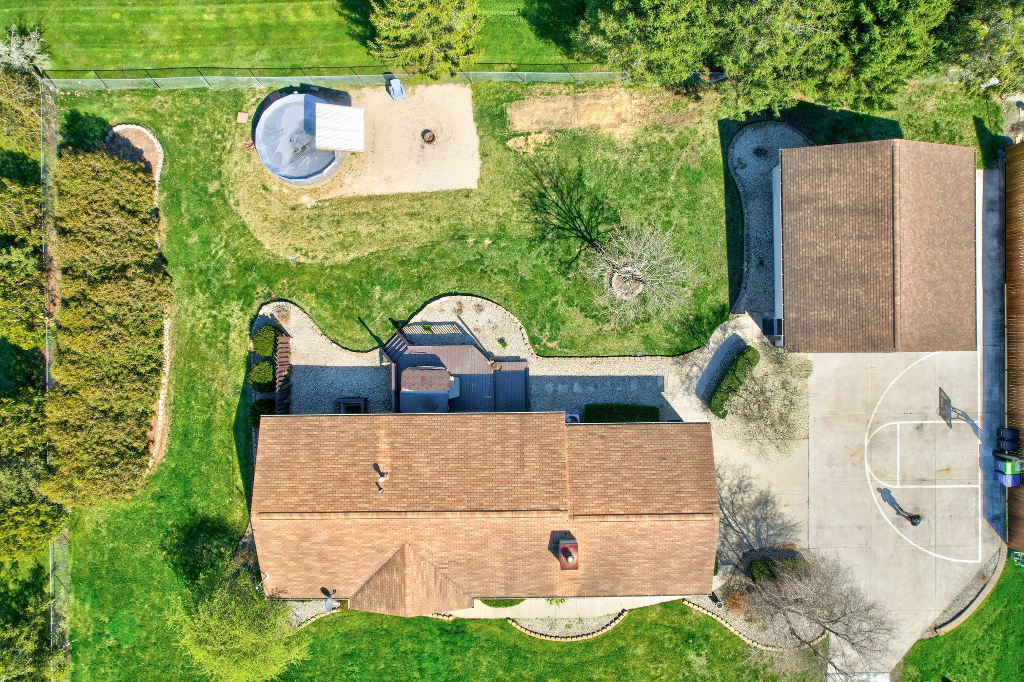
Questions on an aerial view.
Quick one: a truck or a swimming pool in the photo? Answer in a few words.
swimming pool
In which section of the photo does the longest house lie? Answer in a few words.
bottom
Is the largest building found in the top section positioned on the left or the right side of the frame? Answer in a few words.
right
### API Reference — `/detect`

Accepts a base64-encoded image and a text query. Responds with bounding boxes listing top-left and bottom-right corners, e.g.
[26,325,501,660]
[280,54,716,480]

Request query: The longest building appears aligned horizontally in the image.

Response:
[252,409,720,616]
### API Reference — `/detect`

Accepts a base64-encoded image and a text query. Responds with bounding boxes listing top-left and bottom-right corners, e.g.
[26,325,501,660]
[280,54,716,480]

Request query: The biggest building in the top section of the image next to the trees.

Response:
[758,139,978,354]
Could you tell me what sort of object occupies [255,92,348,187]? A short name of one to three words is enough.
swimming pool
